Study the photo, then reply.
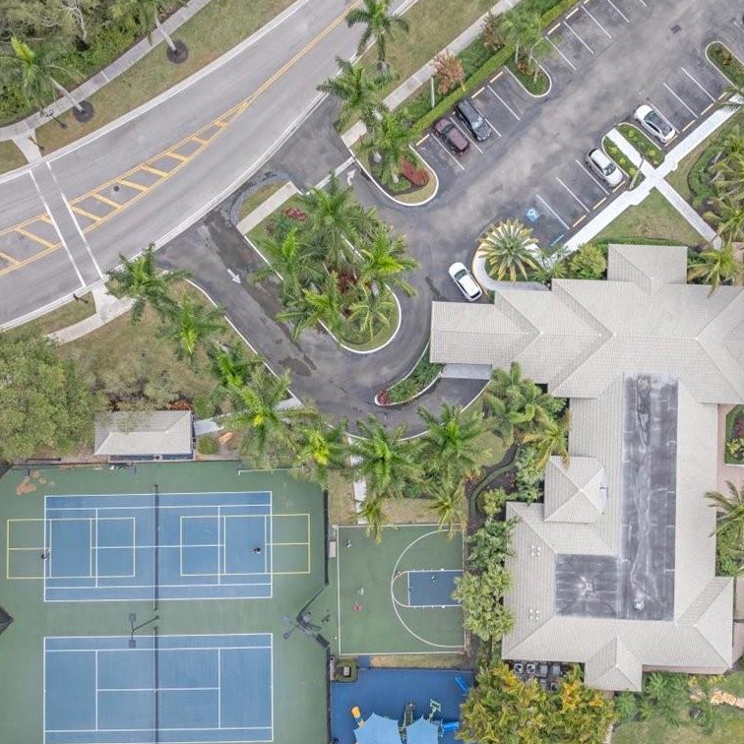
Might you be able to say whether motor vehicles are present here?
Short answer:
Yes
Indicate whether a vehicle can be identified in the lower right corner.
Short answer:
No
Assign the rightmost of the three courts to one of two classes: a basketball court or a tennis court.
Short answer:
basketball court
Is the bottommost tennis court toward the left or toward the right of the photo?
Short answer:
left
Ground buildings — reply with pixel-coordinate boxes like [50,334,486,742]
[95,411,194,461]
[431,245,744,690]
